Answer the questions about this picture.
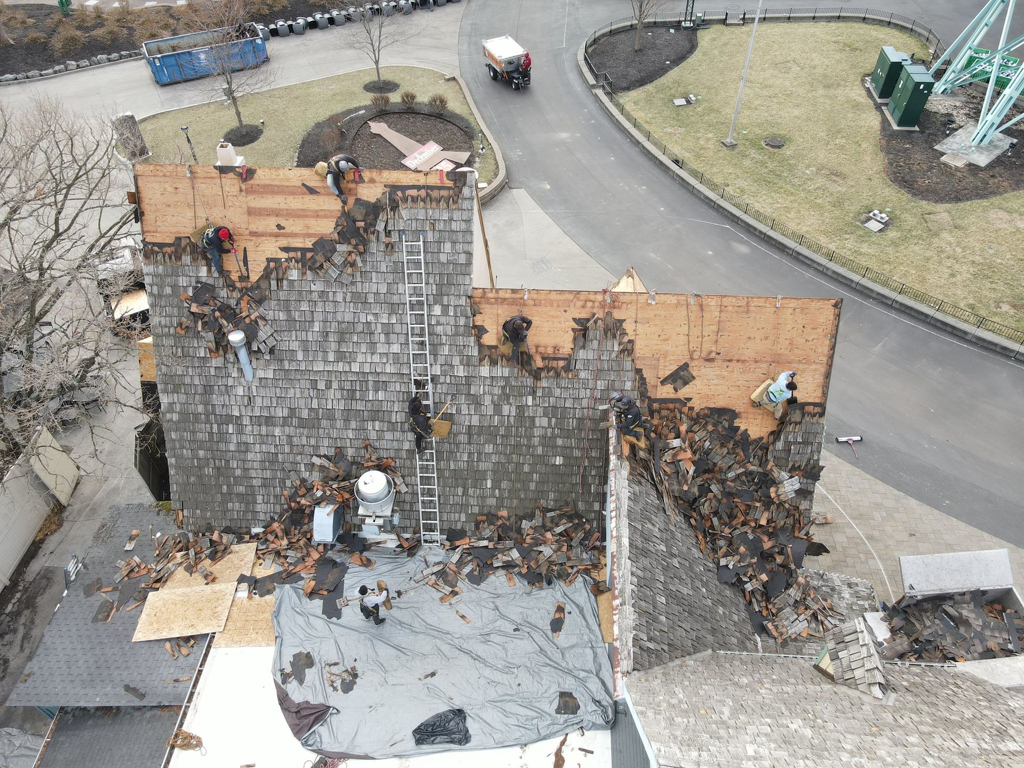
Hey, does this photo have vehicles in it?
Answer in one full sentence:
Yes, there's a vehicle down there.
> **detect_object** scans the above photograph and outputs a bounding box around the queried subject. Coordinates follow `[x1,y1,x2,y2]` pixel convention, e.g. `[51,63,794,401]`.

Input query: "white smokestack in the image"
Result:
[214,133,258,165]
